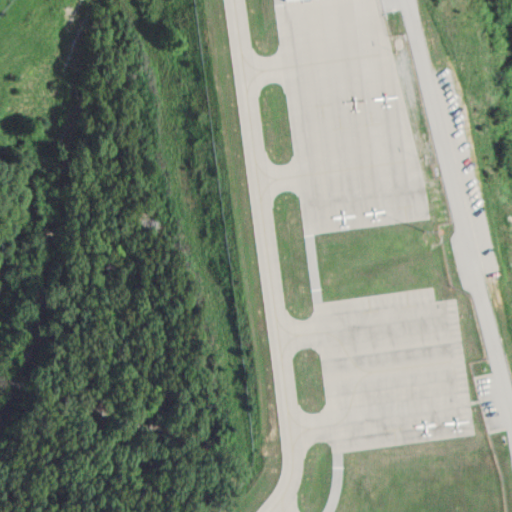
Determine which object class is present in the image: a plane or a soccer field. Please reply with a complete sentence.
It is a plane that can be seen here.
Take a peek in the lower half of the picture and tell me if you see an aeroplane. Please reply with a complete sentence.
Yes, there is an aeroplane in the lower half of the picture.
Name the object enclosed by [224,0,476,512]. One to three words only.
airport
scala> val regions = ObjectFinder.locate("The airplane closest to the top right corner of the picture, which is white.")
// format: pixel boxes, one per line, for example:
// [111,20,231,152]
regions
[374,92,398,109]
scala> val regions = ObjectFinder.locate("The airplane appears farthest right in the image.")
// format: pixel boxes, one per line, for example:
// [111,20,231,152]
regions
[445,417,470,434]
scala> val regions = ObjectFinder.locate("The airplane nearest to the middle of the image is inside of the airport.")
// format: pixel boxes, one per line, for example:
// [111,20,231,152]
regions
[332,211,356,228]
